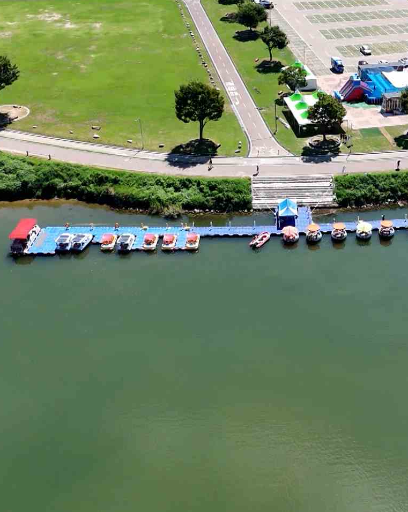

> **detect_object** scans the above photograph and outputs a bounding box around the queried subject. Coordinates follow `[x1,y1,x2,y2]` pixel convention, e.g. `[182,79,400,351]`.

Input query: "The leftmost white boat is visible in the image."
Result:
[22,228,44,251]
